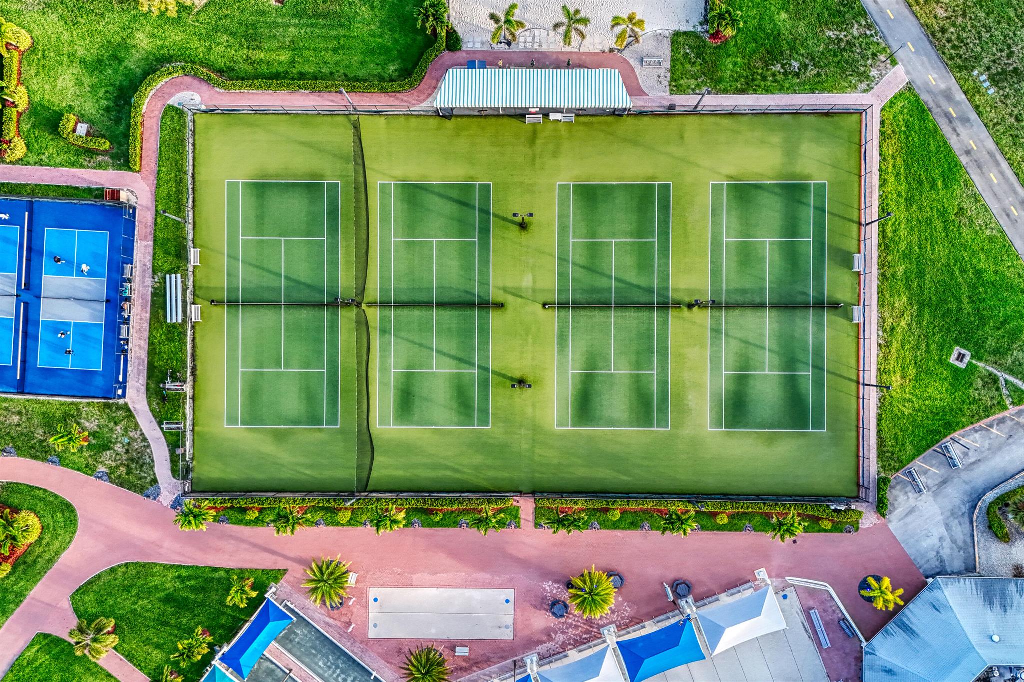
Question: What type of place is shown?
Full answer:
It's a sports ground.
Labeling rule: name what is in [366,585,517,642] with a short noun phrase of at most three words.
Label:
sports court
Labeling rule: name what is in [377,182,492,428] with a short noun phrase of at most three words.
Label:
tennis court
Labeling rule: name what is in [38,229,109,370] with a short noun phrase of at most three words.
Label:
sports court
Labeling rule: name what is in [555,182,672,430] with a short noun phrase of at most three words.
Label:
tennis court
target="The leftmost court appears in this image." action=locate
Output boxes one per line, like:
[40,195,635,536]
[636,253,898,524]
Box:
[0,225,20,366]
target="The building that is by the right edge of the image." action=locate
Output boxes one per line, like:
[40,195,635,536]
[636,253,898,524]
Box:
[863,576,1024,682]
